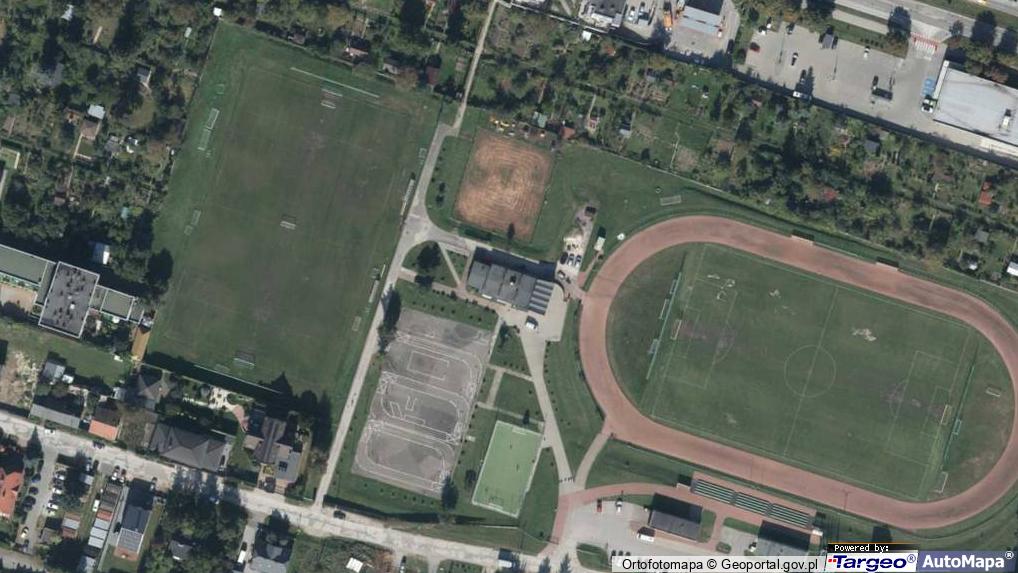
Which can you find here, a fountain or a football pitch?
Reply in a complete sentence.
This aerial view contains a football pitch.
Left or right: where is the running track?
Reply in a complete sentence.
The running track sits on the right side.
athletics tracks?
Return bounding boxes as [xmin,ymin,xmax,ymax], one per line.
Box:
[580,216,1018,526]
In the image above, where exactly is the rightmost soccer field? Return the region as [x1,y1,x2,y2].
[606,242,1016,499]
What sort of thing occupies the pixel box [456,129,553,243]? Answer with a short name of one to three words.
sports field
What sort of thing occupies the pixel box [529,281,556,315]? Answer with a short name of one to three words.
building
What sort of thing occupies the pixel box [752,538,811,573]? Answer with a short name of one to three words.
building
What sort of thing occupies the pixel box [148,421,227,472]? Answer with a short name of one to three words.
house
